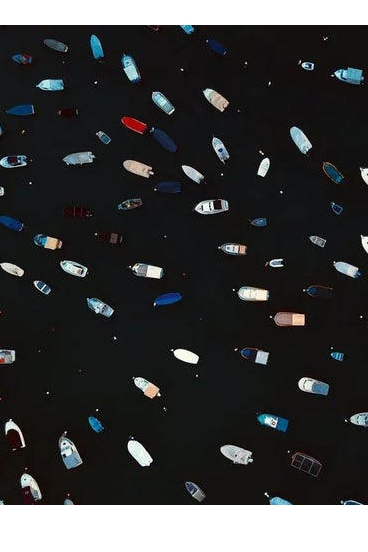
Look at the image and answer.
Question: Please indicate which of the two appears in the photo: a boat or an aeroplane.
boat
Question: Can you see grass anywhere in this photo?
No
